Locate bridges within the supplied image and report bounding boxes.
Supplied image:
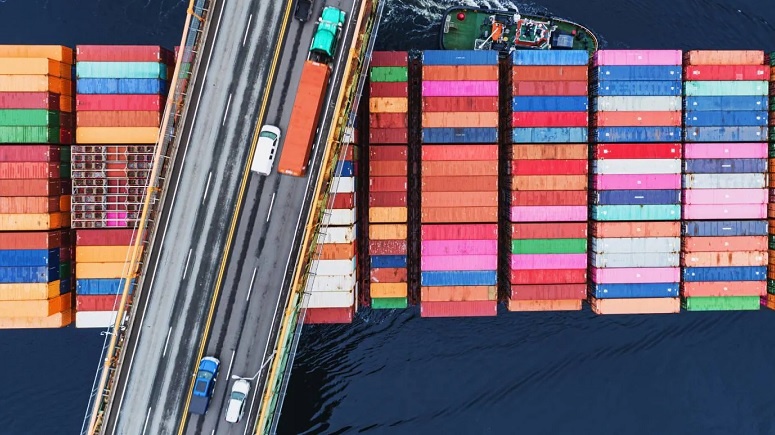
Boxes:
[83,0,388,435]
